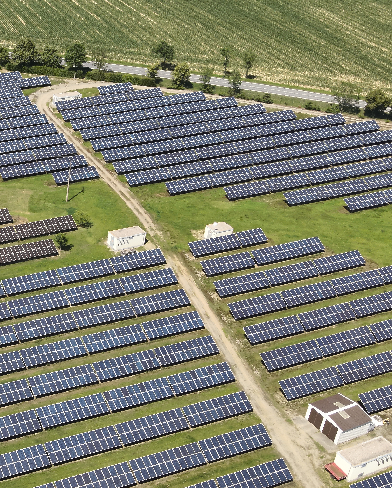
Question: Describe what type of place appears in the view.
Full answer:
What you see here is a solar farm.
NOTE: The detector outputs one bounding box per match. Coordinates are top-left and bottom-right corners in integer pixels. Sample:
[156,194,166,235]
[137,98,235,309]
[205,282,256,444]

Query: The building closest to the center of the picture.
[203,221,234,239]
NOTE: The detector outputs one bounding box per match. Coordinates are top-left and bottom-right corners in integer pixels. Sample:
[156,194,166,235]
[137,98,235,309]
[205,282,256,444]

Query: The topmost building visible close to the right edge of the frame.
[305,391,376,445]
